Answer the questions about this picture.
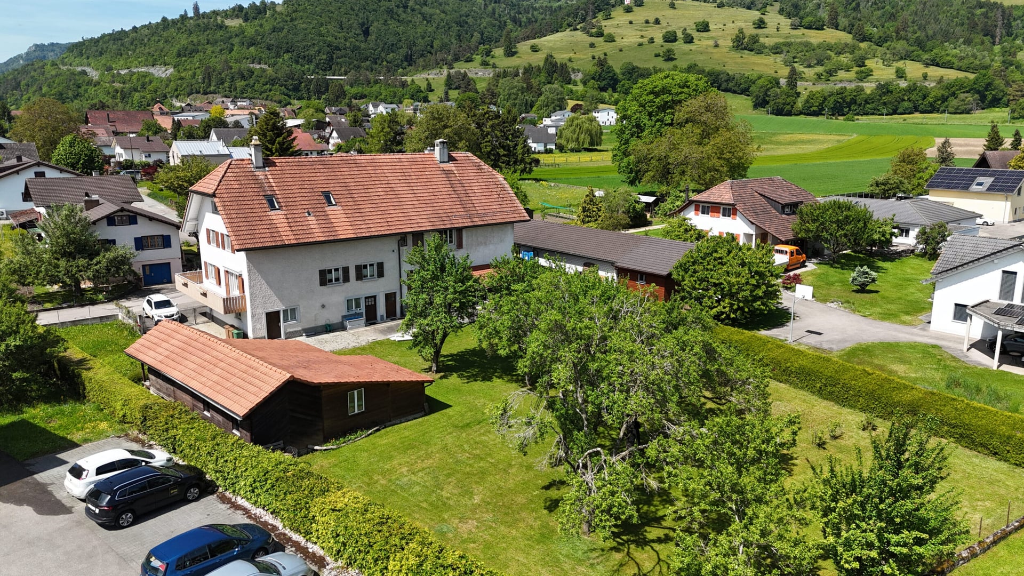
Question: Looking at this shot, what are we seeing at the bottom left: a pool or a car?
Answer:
car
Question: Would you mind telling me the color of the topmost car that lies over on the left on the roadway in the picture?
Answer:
white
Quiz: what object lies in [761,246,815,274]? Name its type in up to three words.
truck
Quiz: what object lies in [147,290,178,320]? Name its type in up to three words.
car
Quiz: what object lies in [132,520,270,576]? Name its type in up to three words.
car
